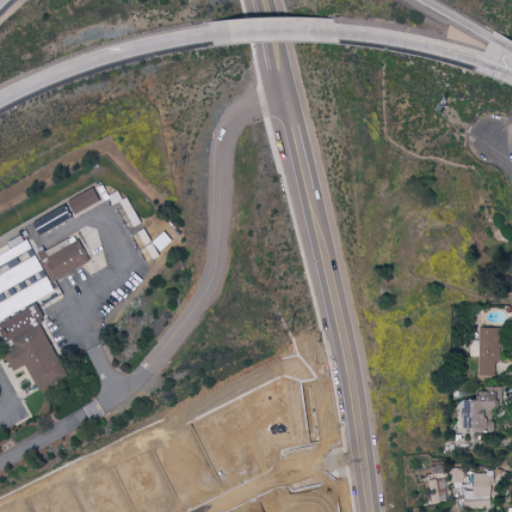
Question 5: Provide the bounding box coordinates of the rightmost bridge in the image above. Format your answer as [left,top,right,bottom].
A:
[476,32,512,86]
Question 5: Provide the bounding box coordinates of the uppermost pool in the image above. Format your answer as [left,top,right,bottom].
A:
[487,310,507,324]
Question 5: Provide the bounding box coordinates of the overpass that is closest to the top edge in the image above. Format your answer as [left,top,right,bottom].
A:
[214,17,336,48]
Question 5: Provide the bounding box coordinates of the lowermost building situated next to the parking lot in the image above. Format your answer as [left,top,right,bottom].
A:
[0,302,66,389]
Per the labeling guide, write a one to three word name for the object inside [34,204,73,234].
shed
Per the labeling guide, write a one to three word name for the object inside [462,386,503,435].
house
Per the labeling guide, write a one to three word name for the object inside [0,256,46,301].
building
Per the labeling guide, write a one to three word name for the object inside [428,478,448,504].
house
